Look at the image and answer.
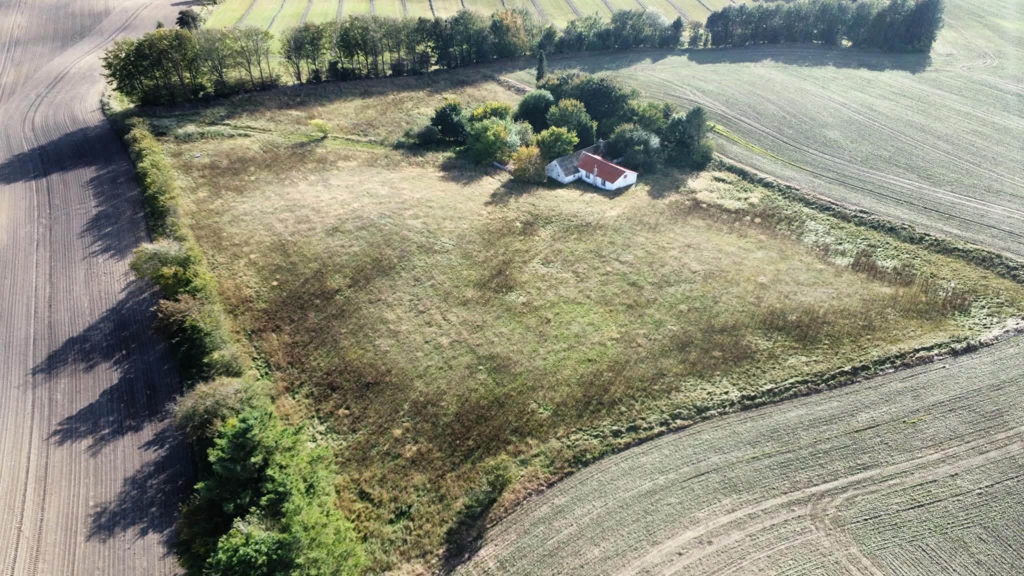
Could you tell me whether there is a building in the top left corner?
No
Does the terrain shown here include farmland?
Yes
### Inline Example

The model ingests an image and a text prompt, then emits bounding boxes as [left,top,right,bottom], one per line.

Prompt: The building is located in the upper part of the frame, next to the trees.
[544,136,637,190]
